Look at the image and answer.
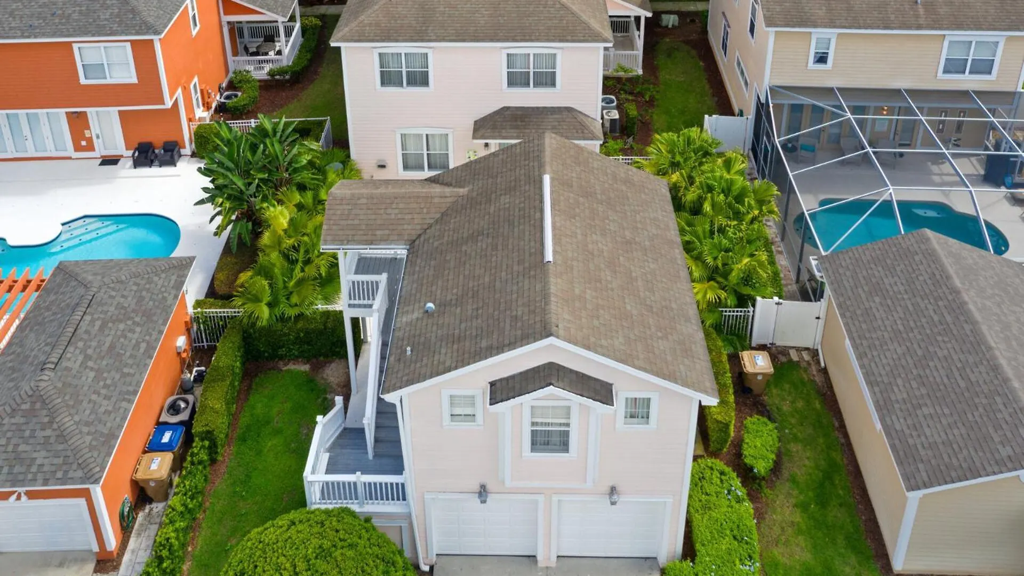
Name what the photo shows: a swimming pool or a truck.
swimming pool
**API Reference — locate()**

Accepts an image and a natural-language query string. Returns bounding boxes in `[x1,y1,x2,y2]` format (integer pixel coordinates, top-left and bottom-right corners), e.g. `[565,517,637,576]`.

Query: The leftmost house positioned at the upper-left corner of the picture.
[0,0,304,162]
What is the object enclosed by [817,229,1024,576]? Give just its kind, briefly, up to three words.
building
